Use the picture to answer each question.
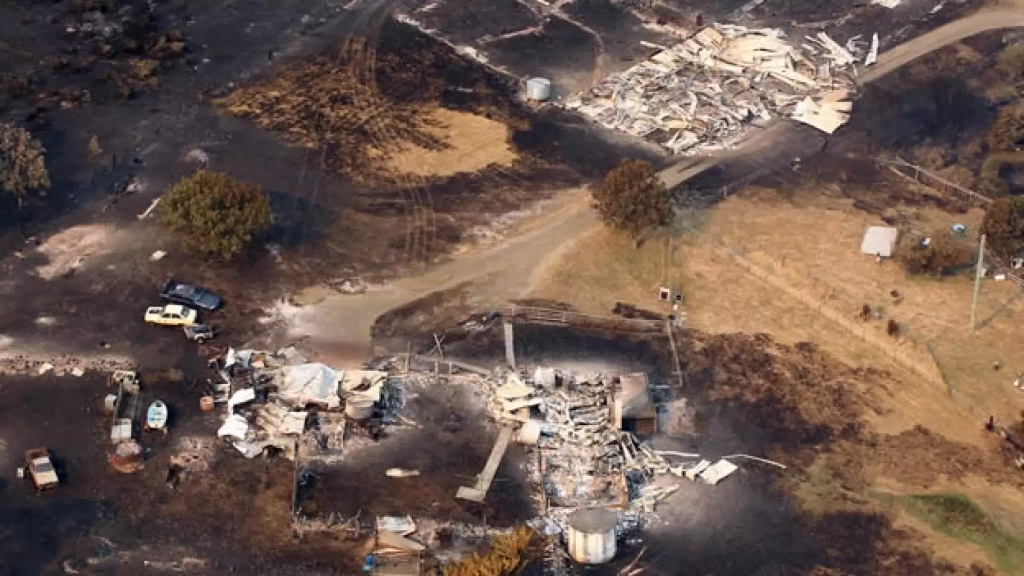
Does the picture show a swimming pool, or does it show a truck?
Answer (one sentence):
This aerial view contains a truck.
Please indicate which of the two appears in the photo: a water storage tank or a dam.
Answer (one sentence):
I can see a water storage tank in this picture.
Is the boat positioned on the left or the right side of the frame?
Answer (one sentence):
The boat sits on the left side.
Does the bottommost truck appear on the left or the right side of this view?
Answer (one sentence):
It is on the left.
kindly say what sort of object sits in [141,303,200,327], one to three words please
car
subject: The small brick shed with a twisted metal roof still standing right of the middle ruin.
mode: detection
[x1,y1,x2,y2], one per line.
[619,370,658,431]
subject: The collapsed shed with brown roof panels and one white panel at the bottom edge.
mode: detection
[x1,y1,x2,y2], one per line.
[364,516,426,576]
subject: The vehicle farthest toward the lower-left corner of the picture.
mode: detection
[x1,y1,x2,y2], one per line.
[25,447,57,492]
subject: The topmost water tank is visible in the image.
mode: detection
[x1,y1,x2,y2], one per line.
[526,76,550,100]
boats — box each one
[145,393,165,432]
